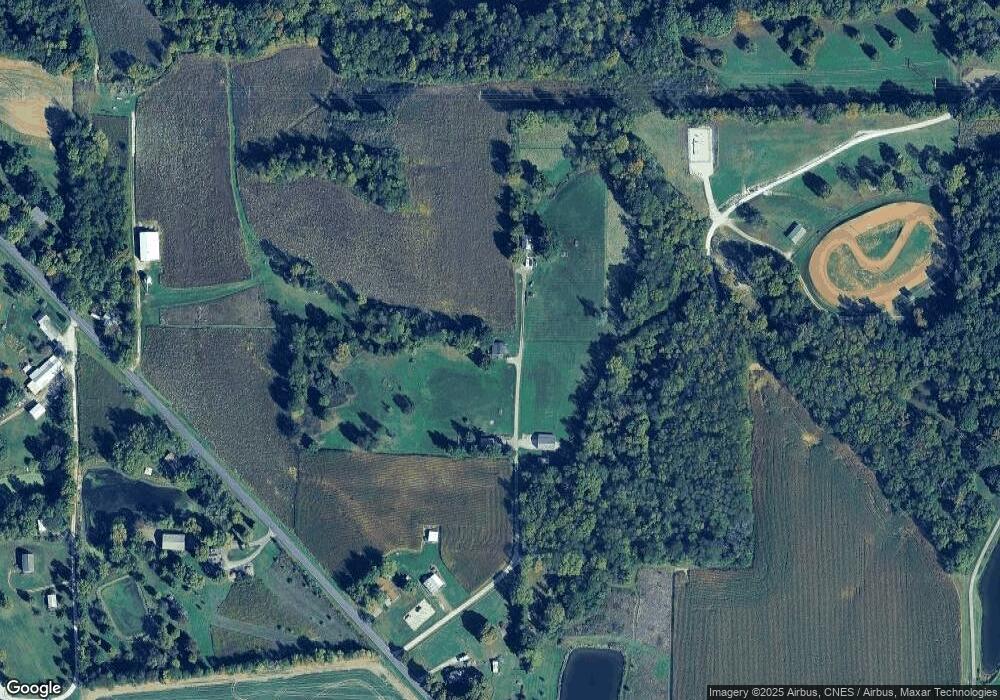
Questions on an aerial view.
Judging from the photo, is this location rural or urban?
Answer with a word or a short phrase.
rural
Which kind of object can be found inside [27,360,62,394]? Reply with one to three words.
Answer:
barn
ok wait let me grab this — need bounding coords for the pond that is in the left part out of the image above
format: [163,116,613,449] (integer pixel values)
[82,469,196,531]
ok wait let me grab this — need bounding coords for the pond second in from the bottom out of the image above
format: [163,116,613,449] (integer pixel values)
[979,542,1000,672]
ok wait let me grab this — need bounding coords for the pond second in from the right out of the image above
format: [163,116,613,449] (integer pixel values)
[559,648,624,700]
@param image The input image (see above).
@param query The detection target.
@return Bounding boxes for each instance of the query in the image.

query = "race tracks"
[801,191,948,317]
